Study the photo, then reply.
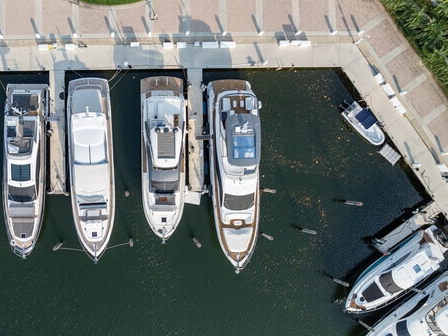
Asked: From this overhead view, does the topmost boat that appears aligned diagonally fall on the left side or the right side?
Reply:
right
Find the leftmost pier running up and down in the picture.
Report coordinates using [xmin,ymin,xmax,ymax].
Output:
[49,72,69,192]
